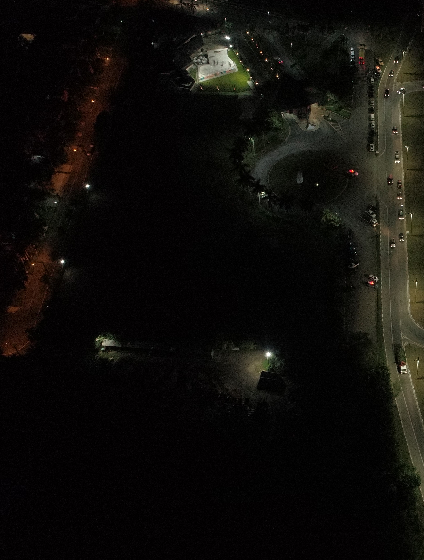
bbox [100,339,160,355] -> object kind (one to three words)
shed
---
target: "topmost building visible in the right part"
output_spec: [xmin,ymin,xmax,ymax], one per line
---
[271,78,319,127]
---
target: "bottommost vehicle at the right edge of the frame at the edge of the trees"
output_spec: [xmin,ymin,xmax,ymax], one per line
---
[396,345,409,377]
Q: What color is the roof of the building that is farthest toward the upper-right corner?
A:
black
